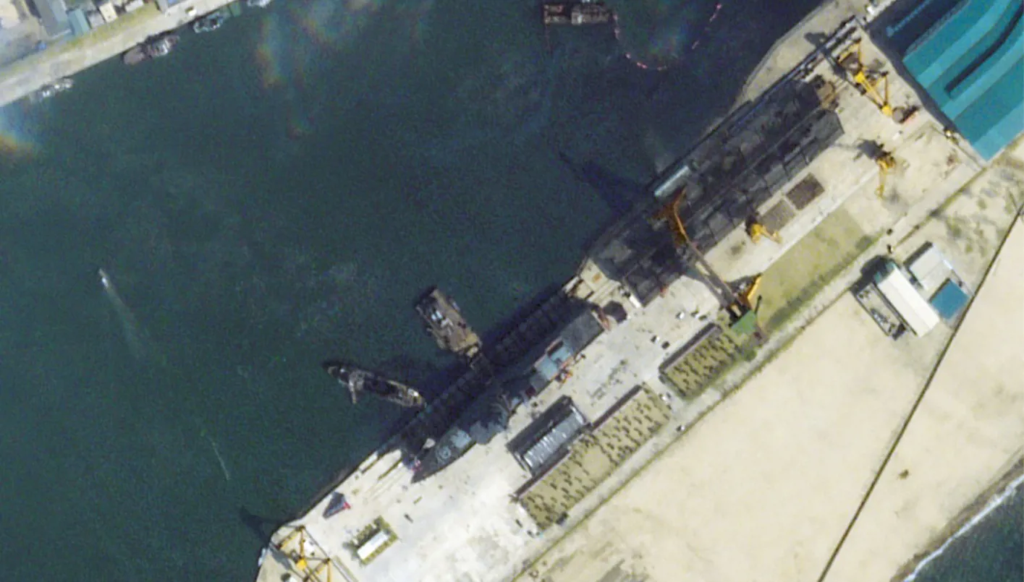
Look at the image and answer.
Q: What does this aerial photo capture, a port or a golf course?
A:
port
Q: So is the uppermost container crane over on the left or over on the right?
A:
right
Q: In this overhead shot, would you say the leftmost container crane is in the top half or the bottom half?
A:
bottom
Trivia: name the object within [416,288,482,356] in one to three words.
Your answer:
ship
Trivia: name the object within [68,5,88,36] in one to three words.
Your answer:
house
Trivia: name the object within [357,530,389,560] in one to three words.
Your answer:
shed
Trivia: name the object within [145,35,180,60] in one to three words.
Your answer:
boat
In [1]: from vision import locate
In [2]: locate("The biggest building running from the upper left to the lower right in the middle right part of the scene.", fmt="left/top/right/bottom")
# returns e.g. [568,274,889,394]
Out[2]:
[875,262,940,337]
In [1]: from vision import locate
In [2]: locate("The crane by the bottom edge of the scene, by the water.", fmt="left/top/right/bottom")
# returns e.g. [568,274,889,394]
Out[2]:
[277,525,332,582]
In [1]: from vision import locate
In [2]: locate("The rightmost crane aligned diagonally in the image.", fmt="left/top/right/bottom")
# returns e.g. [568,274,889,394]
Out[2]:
[835,38,896,116]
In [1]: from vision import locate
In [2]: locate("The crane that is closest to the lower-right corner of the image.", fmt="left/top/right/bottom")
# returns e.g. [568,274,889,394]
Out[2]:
[729,273,762,334]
